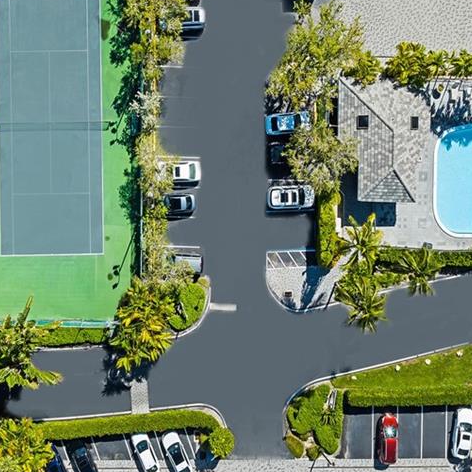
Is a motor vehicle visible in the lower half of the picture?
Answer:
Yes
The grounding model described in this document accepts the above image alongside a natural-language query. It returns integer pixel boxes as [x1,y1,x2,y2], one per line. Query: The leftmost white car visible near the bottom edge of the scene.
[131,437,161,472]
